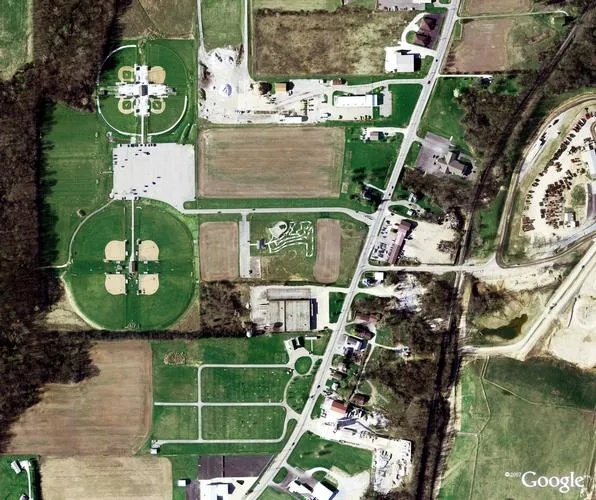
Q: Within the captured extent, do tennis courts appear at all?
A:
No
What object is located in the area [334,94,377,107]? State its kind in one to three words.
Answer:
building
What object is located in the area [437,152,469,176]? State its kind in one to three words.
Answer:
building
